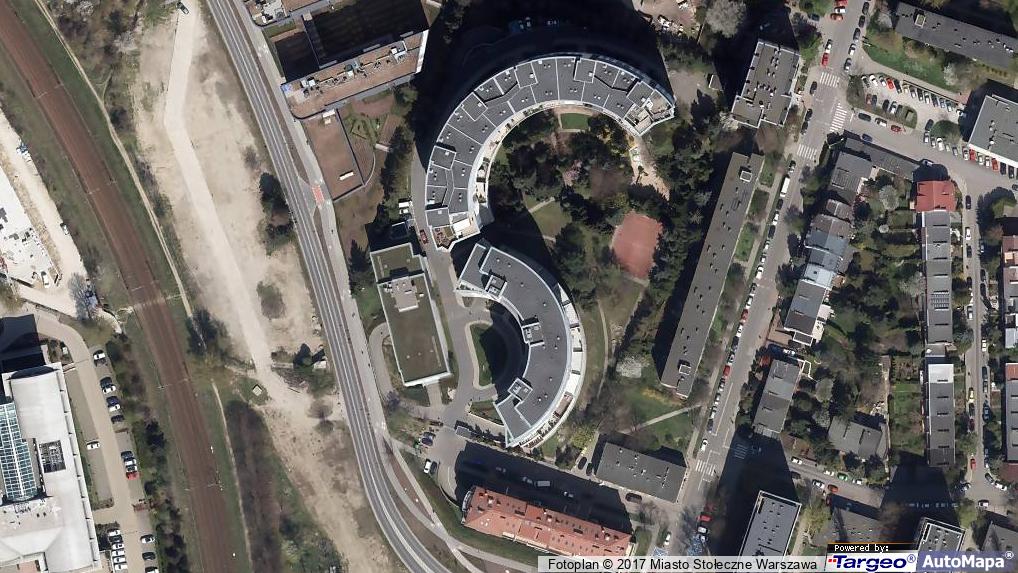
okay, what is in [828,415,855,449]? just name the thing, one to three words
house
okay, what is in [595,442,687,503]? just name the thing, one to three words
building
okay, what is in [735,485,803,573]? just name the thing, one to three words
building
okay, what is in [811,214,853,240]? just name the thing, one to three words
house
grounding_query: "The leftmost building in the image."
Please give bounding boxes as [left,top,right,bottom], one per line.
[0,362,105,573]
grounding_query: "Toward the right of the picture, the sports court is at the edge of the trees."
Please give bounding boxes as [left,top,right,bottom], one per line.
[610,211,664,283]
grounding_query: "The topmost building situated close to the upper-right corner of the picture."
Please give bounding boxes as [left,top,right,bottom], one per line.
[895,3,1018,72]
